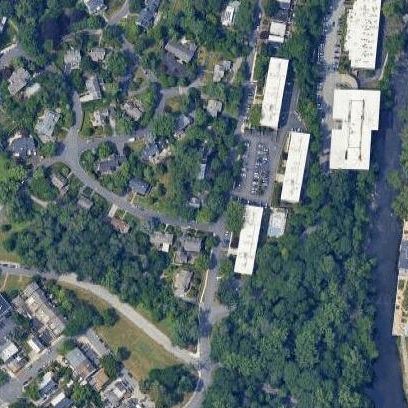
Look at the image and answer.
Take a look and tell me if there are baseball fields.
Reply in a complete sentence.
No, this view has no baseball field in it.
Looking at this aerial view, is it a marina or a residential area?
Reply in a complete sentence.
This looks like a residential area.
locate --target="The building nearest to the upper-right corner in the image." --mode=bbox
[345,0,382,71]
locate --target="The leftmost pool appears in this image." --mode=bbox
[267,208,287,237]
